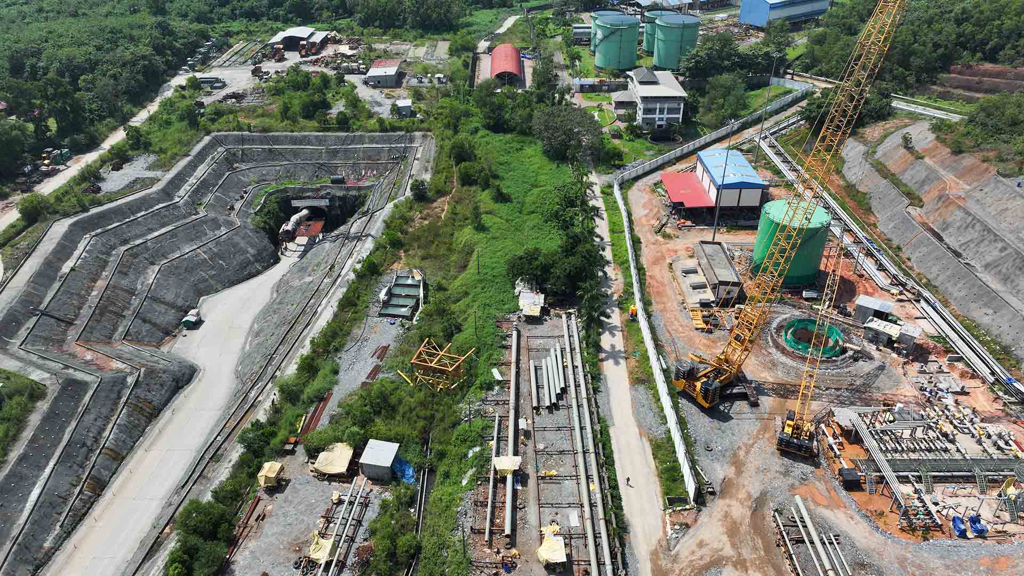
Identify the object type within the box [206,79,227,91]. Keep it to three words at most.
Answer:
vehicle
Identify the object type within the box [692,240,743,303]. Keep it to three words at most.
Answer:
building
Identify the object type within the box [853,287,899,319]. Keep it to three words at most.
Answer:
shed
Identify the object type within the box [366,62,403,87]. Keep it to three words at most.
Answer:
building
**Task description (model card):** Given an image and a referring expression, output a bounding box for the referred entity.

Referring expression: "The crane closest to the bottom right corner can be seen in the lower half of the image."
[778,241,835,457]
